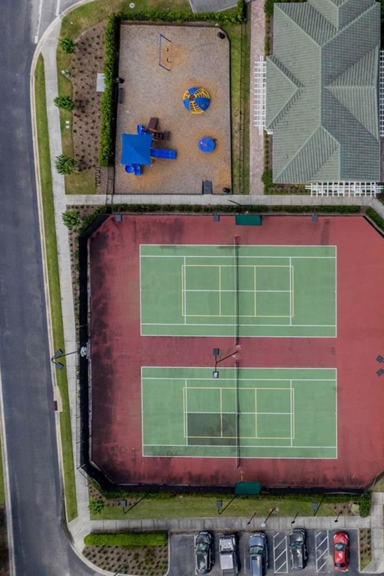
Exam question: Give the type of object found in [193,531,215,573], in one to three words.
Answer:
car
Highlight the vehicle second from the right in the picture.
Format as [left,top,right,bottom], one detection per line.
[287,527,309,569]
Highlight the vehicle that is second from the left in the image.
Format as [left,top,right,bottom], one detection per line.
[218,531,239,576]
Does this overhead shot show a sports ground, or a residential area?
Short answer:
sports ground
